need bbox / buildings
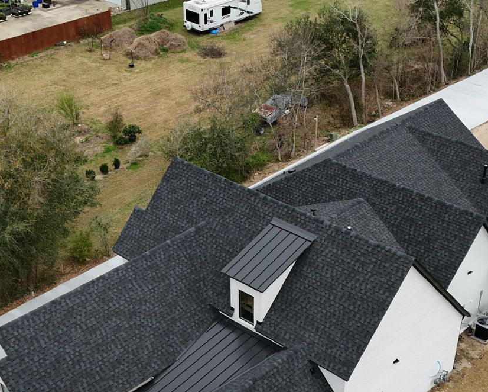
[0,99,488,392]
[99,0,165,11]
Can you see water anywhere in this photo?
No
